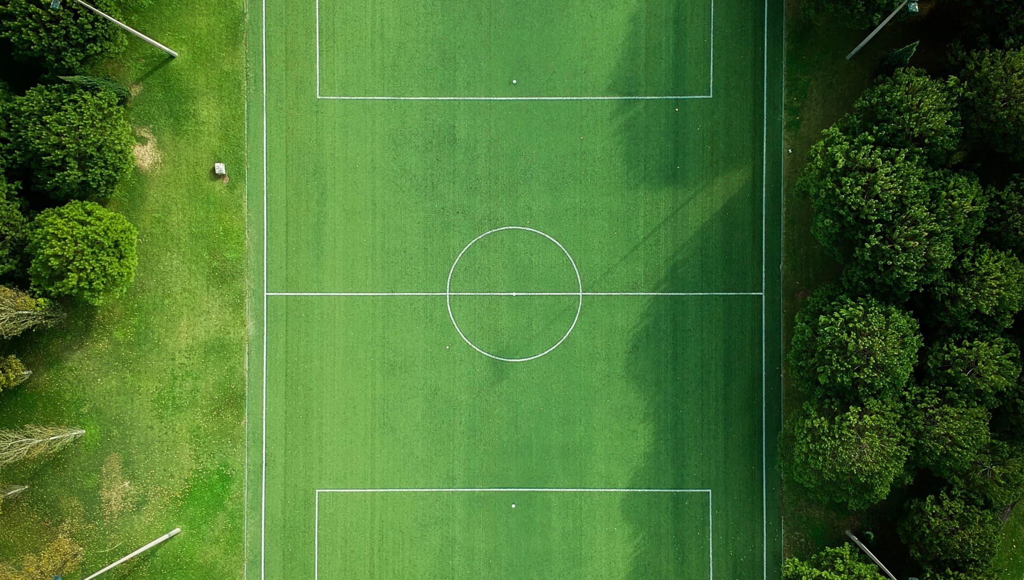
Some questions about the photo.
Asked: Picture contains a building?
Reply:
No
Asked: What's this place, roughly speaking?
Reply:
sports ground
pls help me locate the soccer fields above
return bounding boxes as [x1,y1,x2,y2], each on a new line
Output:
[247,0,783,580]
